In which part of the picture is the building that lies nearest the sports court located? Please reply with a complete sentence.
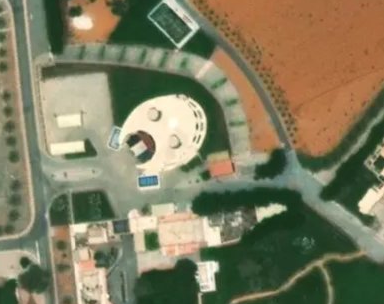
You can find the building that lies nearest the sports court in the center area of the picture.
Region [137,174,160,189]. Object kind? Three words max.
swimming pool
